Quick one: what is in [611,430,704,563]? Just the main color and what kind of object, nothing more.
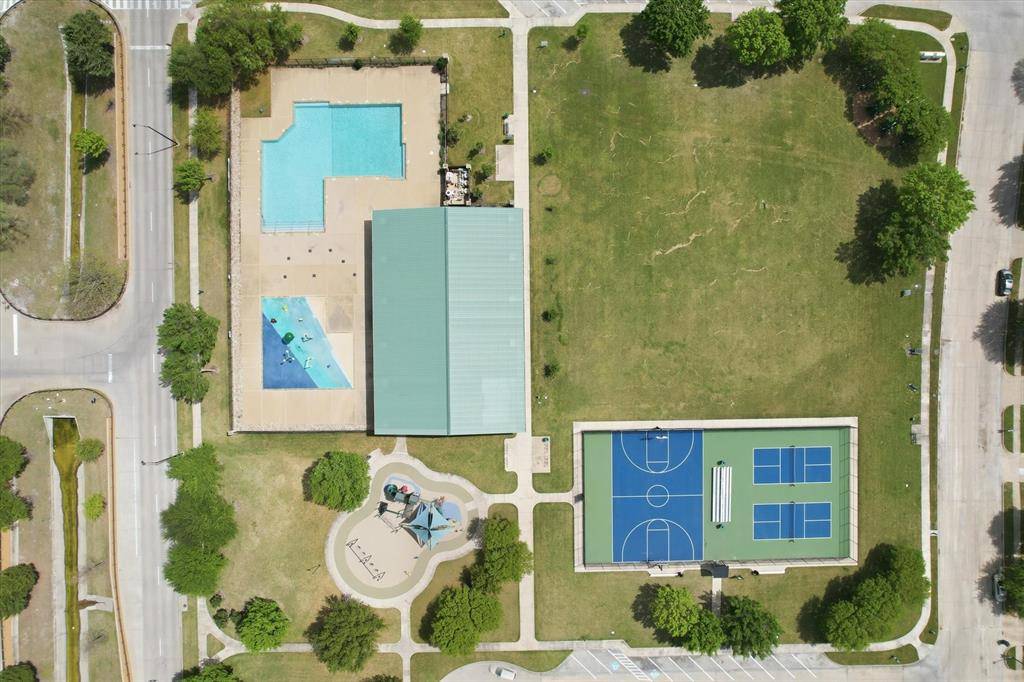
blue basketball court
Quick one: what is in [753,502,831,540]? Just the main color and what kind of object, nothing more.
blue sports court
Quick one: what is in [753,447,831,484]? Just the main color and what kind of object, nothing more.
blue sports court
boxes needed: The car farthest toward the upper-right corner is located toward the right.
[1000,270,1015,296]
